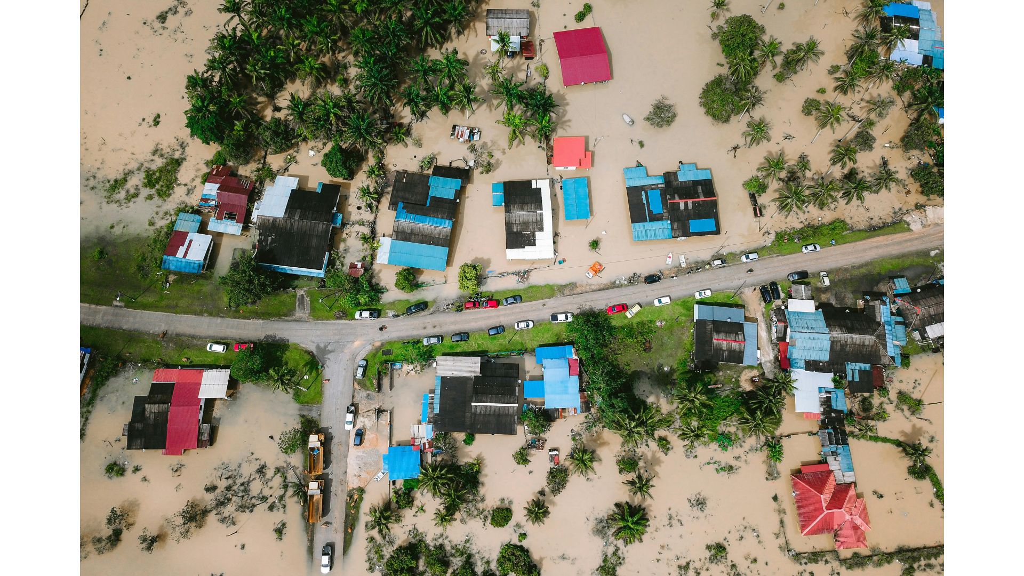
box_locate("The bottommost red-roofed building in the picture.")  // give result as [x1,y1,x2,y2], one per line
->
[786,463,871,550]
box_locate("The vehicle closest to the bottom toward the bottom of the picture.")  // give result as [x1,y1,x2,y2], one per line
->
[320,543,333,572]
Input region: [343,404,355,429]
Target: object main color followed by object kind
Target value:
white vehicle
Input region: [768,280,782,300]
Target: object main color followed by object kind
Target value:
black car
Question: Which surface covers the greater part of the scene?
water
